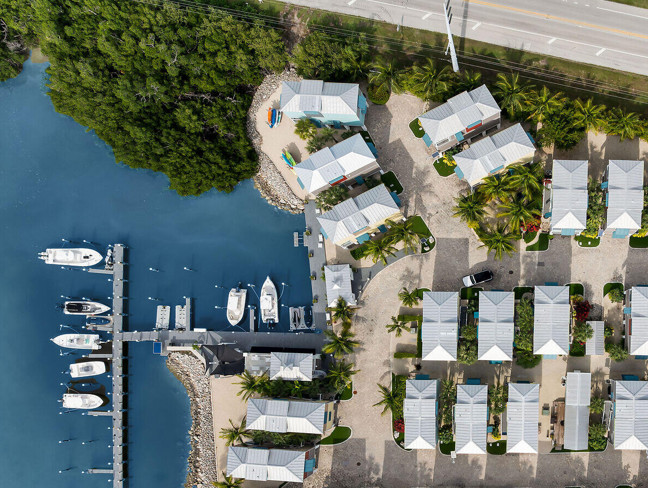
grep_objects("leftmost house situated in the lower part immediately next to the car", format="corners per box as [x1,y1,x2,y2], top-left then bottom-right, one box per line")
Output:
[421,287,464,366]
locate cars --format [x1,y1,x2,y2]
[463,269,493,288]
